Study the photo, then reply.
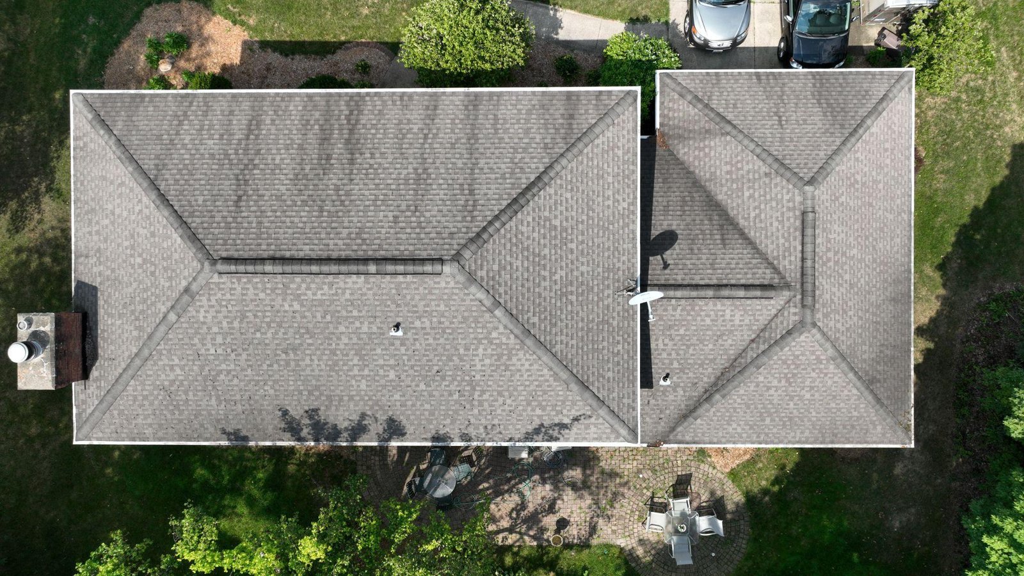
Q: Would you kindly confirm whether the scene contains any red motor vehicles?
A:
No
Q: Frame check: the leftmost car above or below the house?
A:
above it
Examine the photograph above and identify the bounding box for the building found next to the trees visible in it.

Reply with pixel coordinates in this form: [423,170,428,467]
[10,68,915,447]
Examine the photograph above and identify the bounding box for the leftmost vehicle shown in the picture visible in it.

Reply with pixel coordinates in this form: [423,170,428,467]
[682,0,753,54]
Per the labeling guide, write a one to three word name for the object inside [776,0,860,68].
car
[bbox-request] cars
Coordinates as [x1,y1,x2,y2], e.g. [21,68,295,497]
[776,0,860,68]
[682,0,753,54]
